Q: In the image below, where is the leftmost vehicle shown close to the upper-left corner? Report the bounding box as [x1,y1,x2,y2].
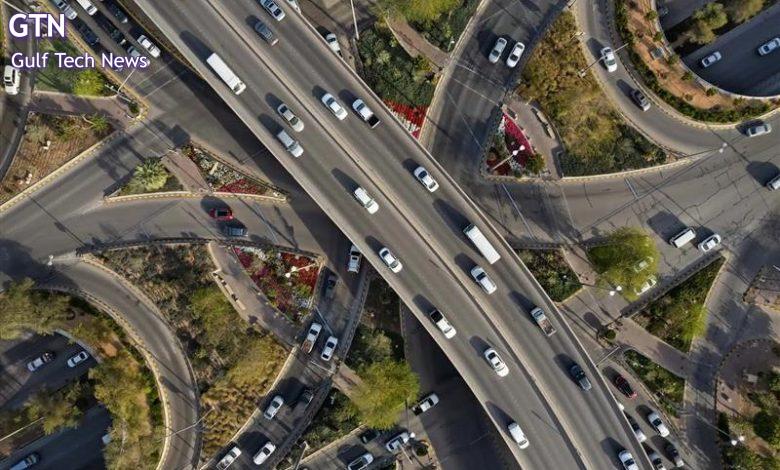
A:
[2,66,22,94]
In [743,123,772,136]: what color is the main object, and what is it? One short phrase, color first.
gray vehicle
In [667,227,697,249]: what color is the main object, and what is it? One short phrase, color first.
white vehicle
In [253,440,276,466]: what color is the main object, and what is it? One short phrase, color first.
white car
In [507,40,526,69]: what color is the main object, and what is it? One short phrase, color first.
white car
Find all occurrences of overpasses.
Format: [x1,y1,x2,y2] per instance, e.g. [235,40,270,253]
[133,0,654,470]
